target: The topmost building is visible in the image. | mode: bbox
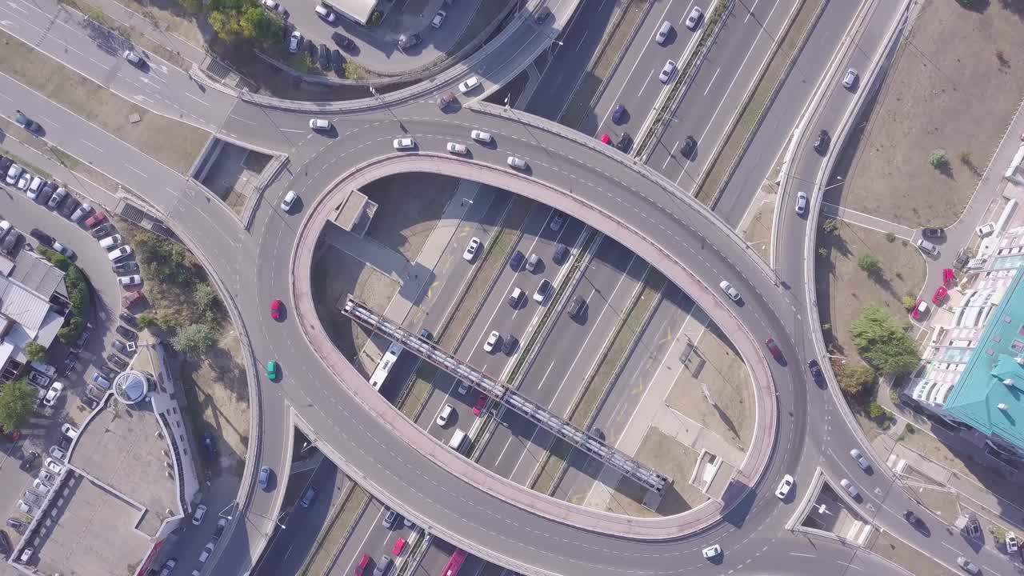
[322,0,388,34]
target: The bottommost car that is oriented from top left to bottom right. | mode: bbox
[954,555,980,576]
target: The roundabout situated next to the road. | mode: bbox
[251,97,818,576]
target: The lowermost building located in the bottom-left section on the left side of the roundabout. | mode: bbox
[0,392,209,576]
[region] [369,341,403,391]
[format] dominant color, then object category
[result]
white bus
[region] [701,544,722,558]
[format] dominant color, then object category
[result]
white car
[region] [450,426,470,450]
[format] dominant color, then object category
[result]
white vehicle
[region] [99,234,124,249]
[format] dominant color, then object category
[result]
white car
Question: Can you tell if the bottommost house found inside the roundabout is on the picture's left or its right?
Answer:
right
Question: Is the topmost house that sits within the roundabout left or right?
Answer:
left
